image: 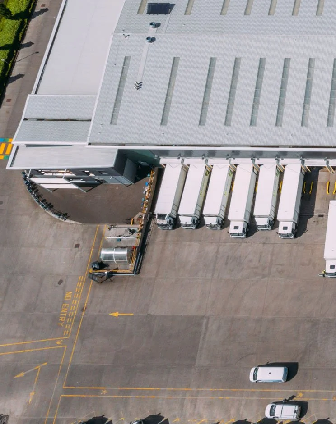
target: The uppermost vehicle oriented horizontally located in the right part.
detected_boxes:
[251,366,289,383]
